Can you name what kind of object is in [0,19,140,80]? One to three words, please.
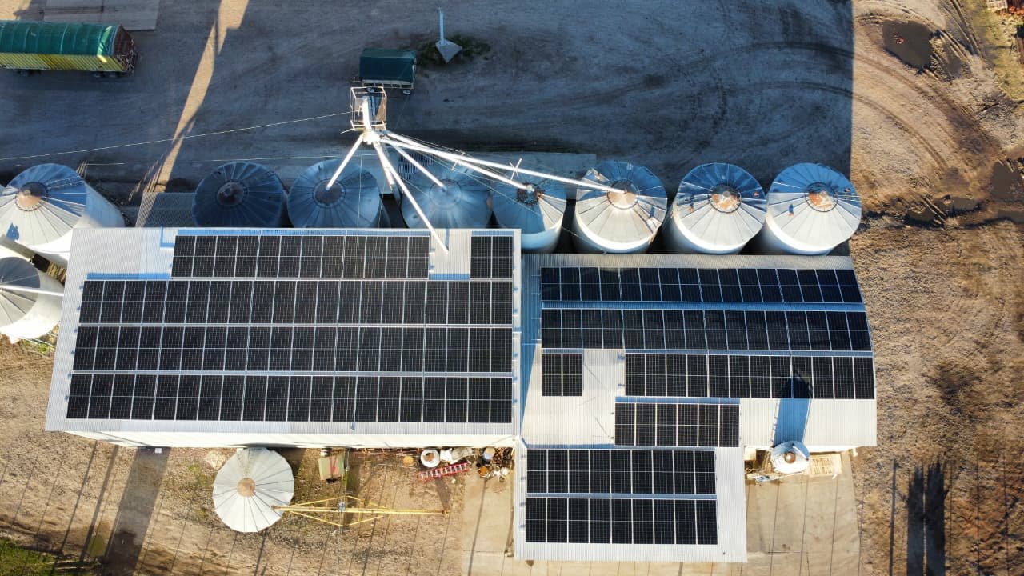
trailer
